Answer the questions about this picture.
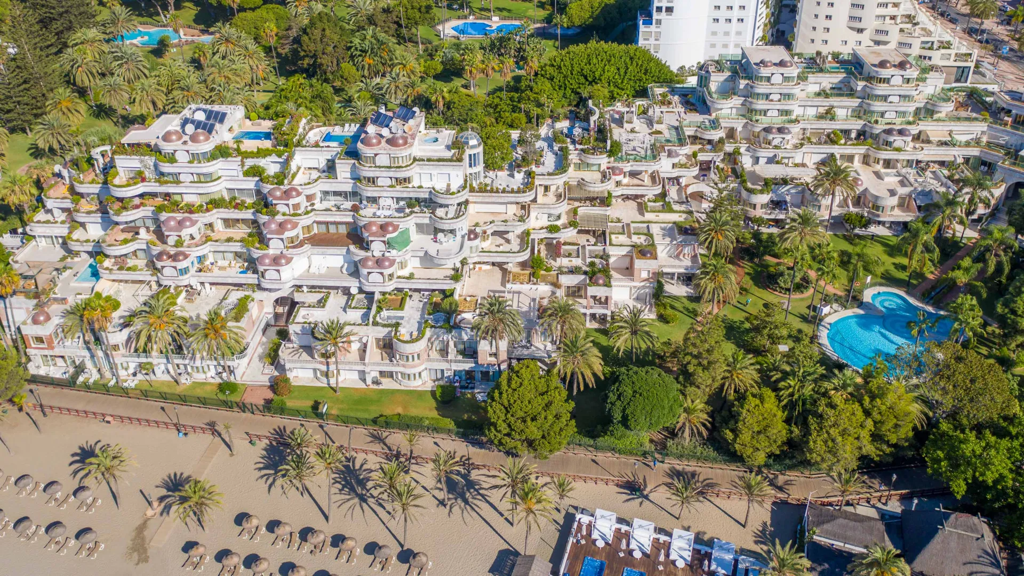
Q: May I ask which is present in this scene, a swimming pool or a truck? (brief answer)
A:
swimming pool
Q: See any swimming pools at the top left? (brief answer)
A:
Yes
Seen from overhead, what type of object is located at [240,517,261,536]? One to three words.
umbrella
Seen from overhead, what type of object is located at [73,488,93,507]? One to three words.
umbrella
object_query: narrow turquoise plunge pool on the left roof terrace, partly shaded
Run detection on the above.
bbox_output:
[72,263,102,285]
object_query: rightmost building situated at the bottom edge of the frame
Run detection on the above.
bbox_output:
[901,502,1009,576]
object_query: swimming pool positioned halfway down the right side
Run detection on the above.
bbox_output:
[818,286,970,385]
